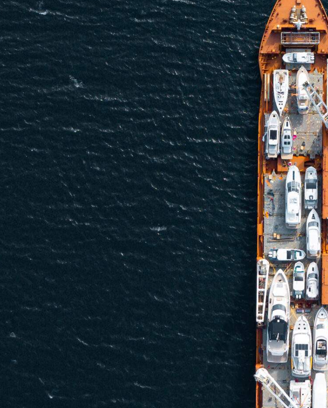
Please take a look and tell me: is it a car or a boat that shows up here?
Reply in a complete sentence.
Visible in the photo is a boat.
